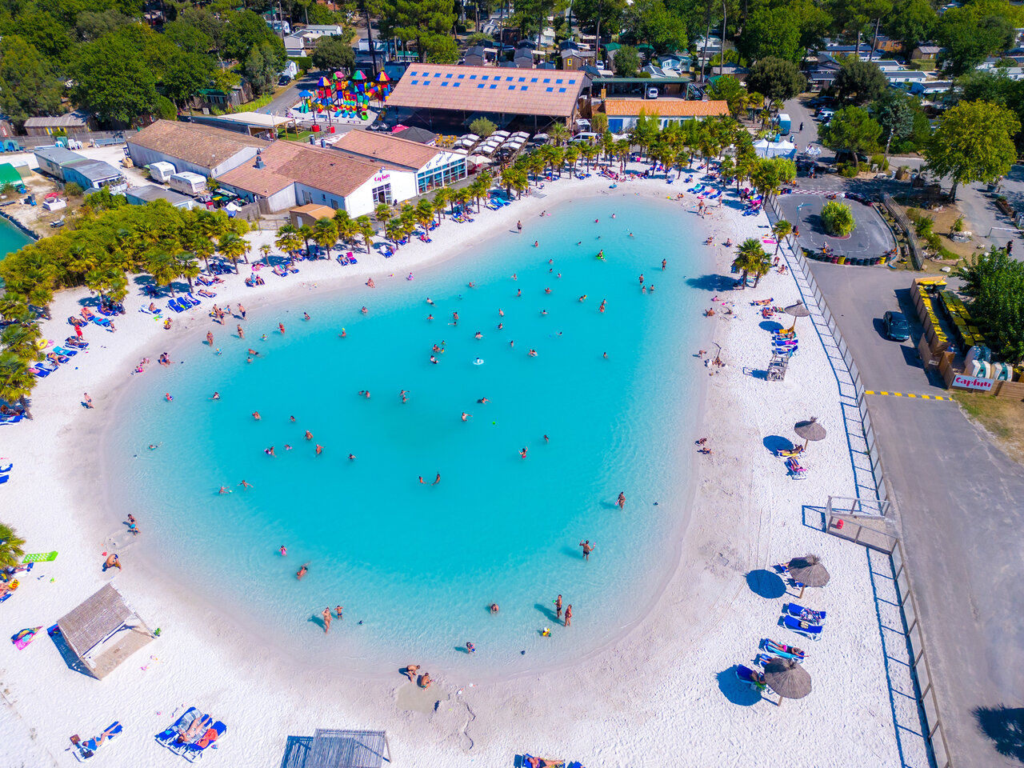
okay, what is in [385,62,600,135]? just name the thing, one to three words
building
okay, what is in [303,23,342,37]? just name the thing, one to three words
house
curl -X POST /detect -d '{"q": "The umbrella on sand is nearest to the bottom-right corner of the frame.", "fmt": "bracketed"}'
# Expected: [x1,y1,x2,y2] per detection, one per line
[762,658,817,708]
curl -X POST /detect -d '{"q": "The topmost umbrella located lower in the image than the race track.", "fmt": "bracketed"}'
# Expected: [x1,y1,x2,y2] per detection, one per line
[785,297,814,322]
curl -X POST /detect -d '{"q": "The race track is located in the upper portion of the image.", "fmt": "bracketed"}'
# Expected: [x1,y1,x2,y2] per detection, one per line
[778,191,894,264]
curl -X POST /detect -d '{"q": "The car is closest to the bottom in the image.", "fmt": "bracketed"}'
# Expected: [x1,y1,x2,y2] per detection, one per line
[885,307,911,342]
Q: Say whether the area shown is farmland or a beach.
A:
beach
